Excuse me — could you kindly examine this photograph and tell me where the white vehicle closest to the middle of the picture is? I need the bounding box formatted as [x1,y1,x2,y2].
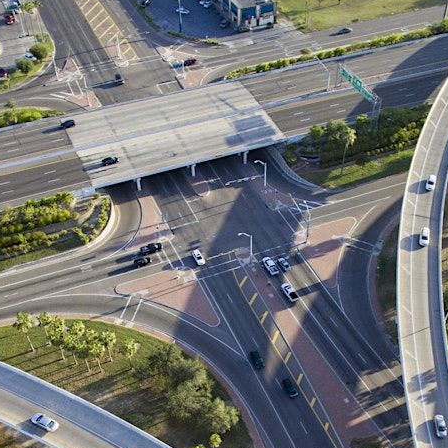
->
[193,249,206,264]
